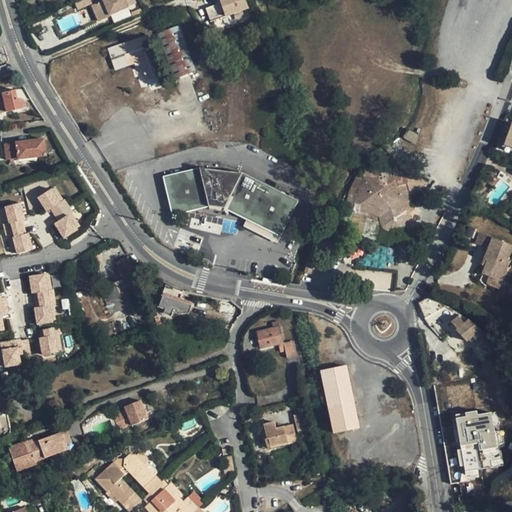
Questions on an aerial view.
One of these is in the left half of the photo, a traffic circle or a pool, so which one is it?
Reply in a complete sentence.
It is a pool that can be seen in the left half of the photo.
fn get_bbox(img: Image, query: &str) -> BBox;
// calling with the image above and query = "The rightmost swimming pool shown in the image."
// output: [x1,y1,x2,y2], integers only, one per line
[488,181,510,205]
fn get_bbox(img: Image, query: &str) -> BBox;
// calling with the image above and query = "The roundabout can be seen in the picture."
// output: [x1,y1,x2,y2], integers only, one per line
[354,296,413,354]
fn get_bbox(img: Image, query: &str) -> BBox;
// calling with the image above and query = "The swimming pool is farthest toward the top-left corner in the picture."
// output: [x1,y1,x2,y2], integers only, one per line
[56,12,78,33]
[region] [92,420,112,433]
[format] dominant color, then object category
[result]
green swimming pool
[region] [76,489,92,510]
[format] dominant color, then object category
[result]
blue swimming pool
